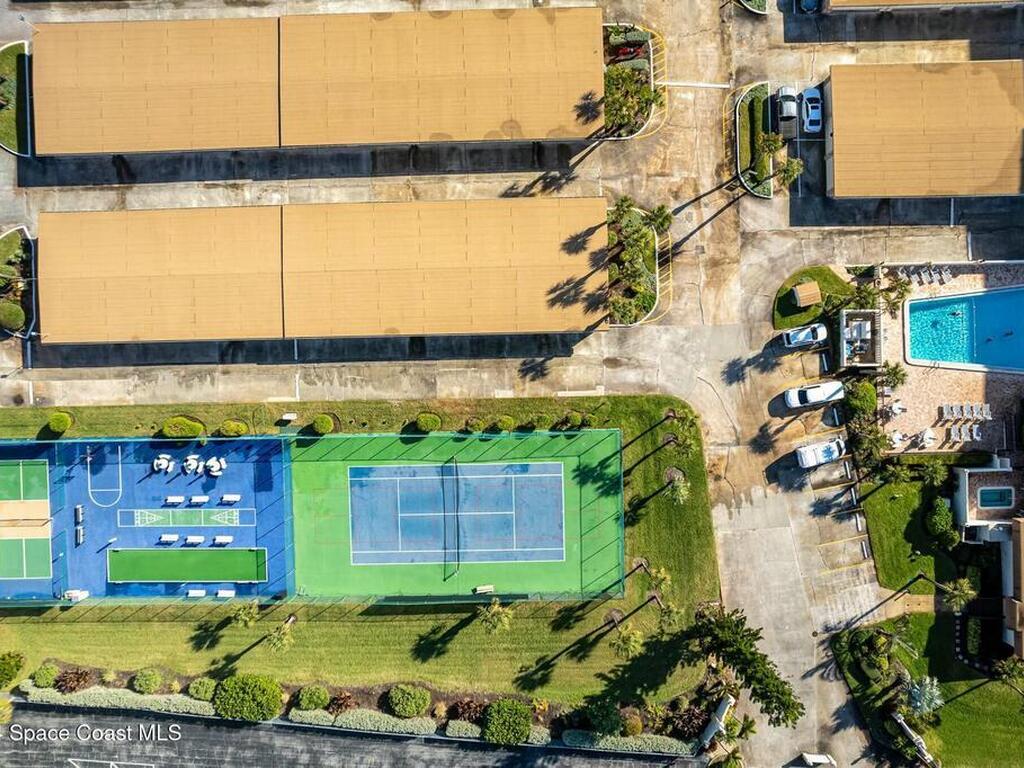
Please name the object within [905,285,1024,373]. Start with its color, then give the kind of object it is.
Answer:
blue swimming pool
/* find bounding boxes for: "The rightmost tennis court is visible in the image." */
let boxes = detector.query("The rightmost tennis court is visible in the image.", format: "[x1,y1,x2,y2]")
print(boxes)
[292,429,622,598]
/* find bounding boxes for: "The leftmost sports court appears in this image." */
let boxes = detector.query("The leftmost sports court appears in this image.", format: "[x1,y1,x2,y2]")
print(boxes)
[0,459,52,580]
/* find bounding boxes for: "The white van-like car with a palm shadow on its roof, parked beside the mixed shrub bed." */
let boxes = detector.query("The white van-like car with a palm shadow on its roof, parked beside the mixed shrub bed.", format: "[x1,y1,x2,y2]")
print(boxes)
[796,439,843,468]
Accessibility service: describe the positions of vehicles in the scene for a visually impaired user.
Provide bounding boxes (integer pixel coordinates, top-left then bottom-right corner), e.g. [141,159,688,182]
[783,324,827,348]
[796,439,843,468]
[801,90,823,134]
[782,381,845,408]
[775,89,799,140]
